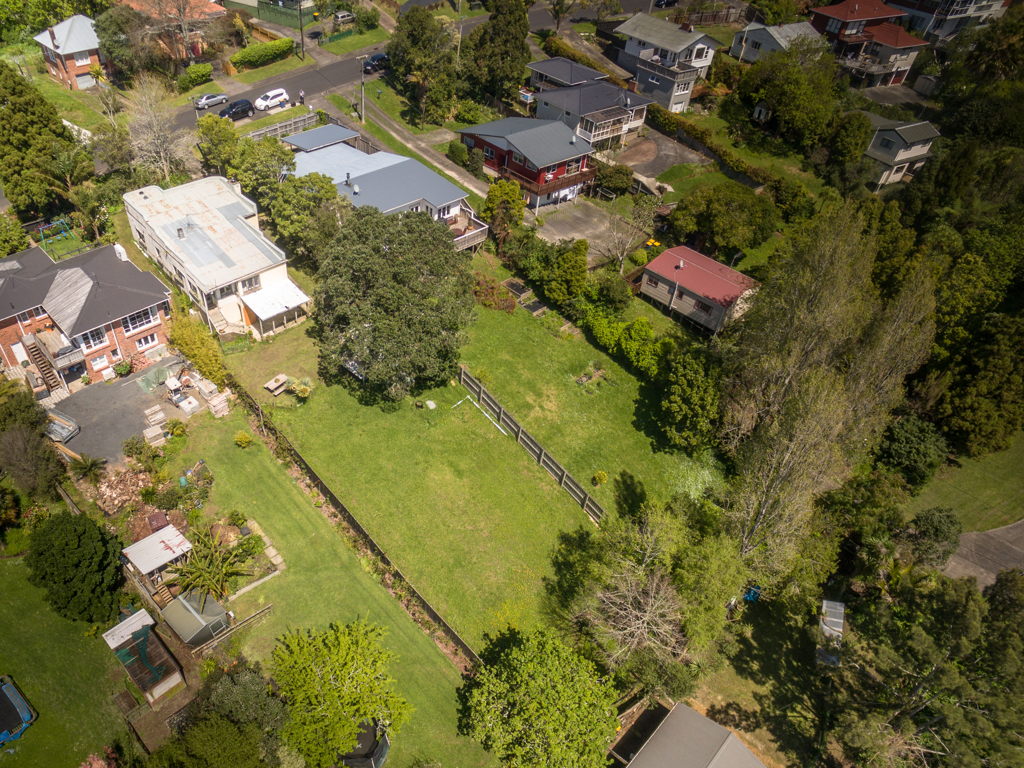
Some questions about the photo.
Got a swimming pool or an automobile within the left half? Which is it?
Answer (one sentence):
The feature located within the left half is an automobile.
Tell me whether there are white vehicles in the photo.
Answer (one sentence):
Yes, the picture does show a white vehicle.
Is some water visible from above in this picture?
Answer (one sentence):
No, the picture contains no water.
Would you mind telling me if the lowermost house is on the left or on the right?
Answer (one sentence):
It is on the right.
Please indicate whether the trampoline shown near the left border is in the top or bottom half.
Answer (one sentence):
It is in the bottom half that the trampoline shown near the left border appears.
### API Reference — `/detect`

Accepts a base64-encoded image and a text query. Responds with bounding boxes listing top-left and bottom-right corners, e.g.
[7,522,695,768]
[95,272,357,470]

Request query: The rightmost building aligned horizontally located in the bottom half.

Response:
[626,702,772,768]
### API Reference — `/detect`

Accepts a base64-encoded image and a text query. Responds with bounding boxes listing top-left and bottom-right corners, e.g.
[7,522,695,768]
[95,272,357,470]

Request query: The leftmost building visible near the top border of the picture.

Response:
[33,15,106,92]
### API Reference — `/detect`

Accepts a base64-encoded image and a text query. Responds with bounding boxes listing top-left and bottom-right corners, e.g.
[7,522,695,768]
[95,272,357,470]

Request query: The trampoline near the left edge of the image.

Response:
[0,678,39,751]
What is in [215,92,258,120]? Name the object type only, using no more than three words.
car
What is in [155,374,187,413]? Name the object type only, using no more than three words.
work vehicle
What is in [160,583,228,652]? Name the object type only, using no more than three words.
shed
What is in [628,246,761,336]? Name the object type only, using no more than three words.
house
